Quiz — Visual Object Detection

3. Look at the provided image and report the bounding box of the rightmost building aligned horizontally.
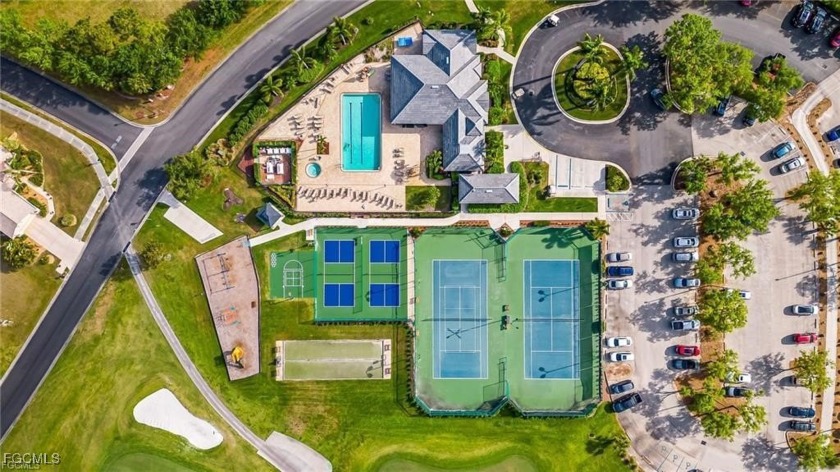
[459,174,519,204]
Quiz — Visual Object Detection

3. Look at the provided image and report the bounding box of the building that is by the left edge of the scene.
[0,152,48,240]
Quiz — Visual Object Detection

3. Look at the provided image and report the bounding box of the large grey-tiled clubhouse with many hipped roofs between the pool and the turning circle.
[391,30,491,172]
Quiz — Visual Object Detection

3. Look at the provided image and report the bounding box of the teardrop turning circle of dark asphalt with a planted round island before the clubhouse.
[509,0,658,187]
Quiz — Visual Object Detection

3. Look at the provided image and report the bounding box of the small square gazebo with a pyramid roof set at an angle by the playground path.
[253,202,281,229]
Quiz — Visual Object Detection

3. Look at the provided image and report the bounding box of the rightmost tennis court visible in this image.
[505,229,600,410]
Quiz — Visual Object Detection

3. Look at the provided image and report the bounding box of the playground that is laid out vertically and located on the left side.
[194,236,260,381]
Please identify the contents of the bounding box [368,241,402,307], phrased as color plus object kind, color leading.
blue sports court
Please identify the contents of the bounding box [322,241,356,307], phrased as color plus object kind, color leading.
blue sports court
